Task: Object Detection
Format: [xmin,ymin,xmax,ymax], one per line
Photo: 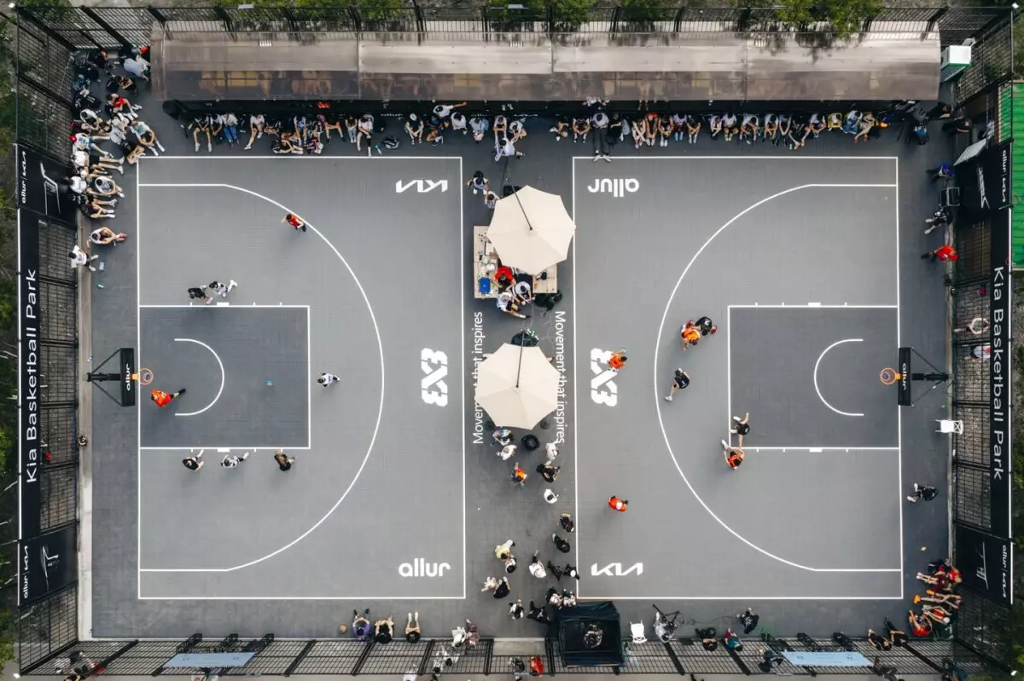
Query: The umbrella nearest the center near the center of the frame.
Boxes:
[473,329,562,430]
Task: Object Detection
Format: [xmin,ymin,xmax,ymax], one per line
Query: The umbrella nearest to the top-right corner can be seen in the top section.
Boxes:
[486,170,577,276]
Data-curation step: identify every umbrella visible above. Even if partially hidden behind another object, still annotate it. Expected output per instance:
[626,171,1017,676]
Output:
[473,329,562,430]
[486,170,577,276]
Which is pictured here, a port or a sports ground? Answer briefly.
sports ground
